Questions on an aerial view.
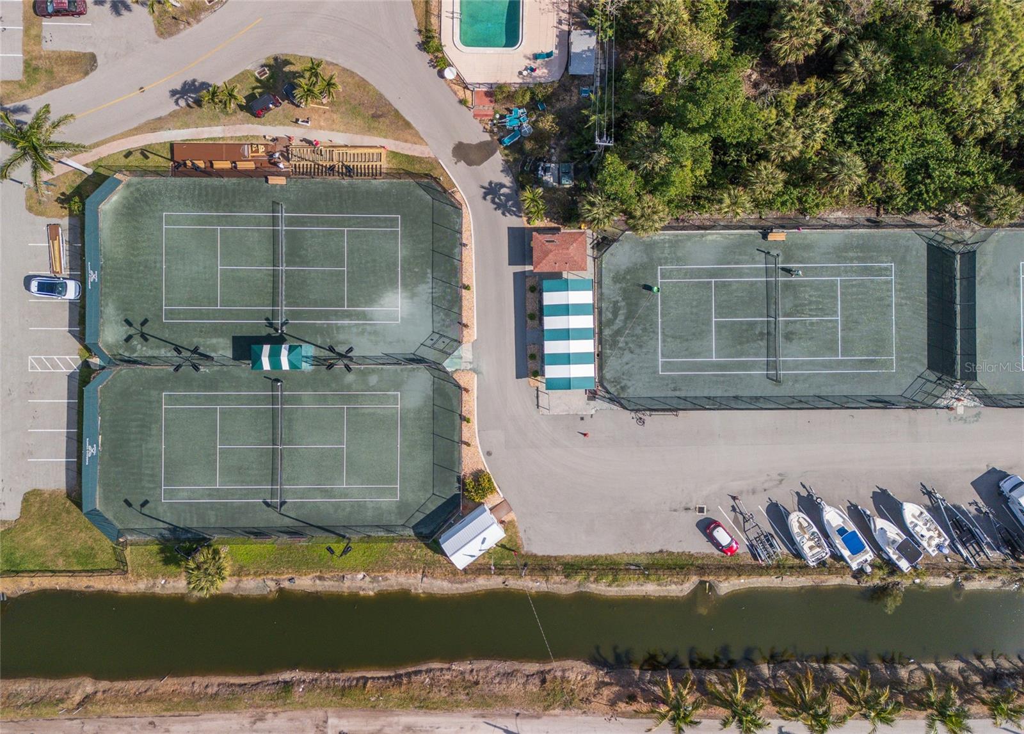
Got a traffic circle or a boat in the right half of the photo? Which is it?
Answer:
boat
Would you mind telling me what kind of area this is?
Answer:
sports ground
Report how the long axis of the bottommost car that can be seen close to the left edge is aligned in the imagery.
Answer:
from left to right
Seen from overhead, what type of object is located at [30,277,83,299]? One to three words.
car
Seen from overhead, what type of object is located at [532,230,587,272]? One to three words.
building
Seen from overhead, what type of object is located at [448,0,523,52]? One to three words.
swimming pool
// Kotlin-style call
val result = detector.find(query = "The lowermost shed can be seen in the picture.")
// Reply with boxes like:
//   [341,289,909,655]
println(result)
[437,502,508,572]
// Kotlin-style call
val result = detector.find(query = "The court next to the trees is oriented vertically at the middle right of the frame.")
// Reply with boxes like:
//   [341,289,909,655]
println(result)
[960,232,1024,407]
